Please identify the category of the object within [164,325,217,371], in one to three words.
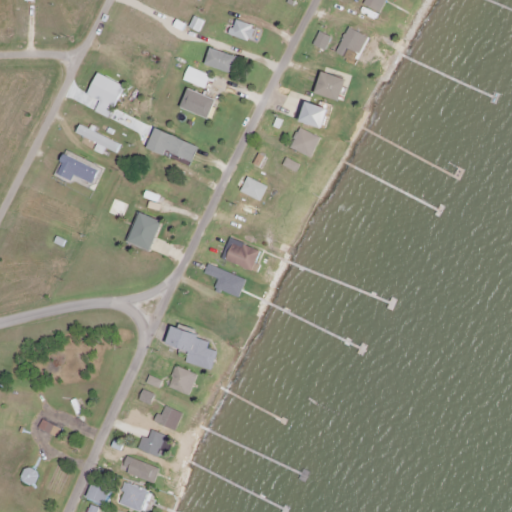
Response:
house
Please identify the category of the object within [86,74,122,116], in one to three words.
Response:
building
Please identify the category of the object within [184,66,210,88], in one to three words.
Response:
building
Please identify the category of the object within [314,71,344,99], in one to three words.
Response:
house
